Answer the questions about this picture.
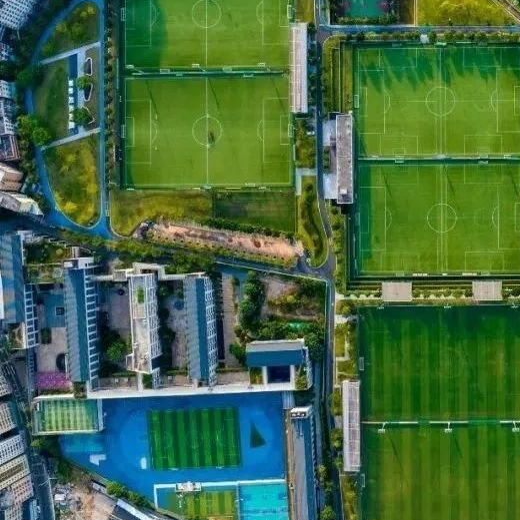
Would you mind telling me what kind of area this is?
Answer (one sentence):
It's a sports ground.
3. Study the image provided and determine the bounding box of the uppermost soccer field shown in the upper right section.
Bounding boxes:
[343,39,520,159]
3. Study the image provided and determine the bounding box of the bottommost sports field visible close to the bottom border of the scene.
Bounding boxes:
[156,484,237,520]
